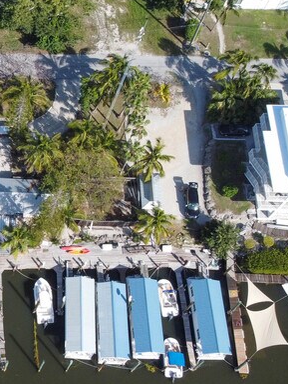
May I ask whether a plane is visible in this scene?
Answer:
No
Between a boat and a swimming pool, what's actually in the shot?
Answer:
boat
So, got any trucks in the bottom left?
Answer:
No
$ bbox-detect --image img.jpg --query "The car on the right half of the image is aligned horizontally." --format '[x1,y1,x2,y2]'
[215,122,252,137]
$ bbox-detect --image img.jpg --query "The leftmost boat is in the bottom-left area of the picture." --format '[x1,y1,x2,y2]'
[34,278,53,333]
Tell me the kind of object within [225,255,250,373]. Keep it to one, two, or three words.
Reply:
pier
